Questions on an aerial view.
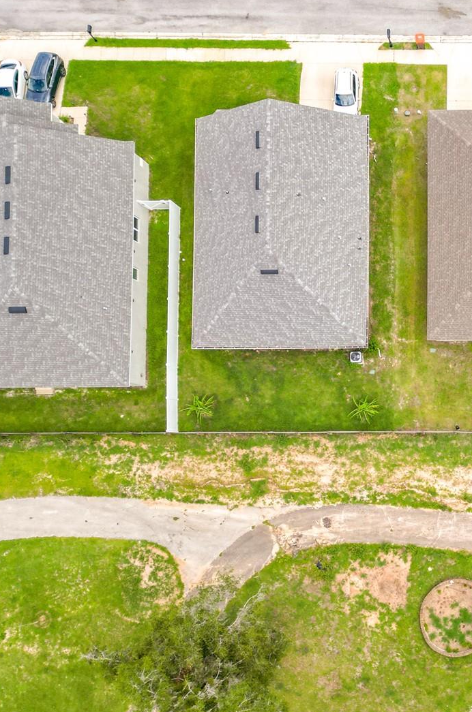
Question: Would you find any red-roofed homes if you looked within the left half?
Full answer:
No, no red-roofed home is visible within the left half.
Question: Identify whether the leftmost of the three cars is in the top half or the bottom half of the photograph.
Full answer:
You can find the leftmost of the three cars in the top half.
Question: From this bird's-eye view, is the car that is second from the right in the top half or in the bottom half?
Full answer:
It is in the top half that the car that is second from the right appears.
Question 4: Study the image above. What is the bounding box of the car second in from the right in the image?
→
[23,52,67,112]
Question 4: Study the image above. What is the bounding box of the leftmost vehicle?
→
[0,60,29,100]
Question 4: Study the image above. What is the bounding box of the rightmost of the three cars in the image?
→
[333,67,363,115]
